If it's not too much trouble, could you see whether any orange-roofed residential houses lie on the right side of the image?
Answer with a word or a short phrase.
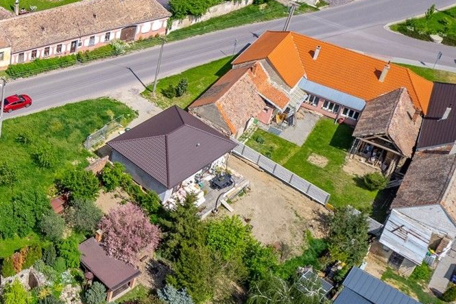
Yes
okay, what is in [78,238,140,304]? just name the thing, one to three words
building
